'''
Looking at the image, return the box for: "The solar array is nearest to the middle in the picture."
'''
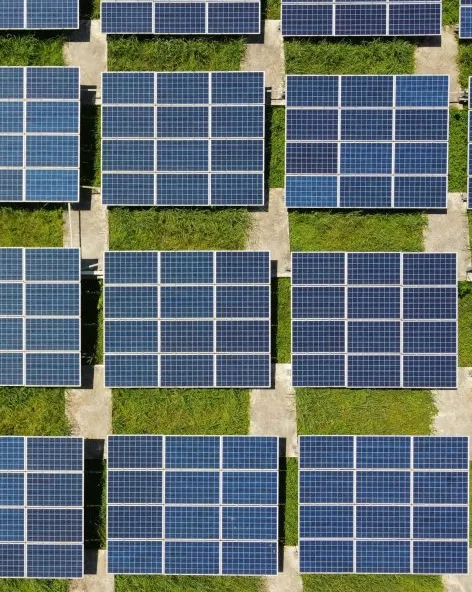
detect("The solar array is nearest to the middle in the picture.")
[105,251,272,386]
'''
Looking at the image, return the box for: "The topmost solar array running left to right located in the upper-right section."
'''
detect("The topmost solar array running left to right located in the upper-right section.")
[279,0,441,36]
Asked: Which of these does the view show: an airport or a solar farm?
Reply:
solar farm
